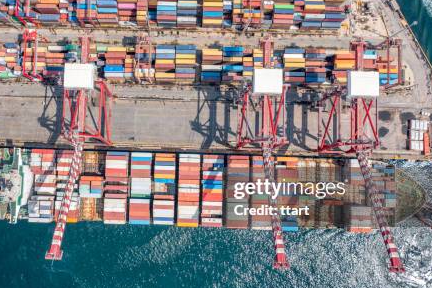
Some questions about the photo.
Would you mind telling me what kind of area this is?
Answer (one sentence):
The area seen from above is a port.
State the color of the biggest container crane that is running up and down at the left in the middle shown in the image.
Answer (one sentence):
The biggest container crane that is running up and down at the left in the middle looks white in the image.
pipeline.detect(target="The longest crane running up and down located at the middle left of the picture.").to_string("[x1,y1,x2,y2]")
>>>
[45,34,117,261]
